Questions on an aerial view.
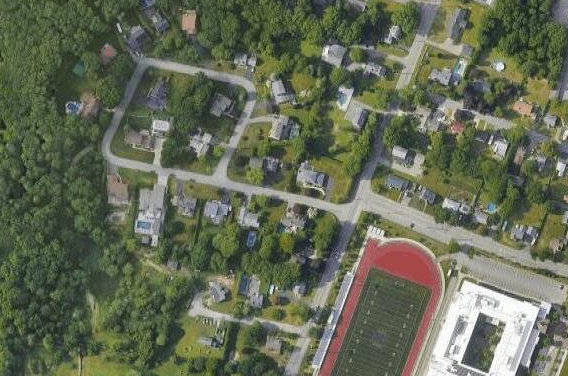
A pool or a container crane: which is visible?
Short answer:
pool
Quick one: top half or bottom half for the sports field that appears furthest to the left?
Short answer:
bottom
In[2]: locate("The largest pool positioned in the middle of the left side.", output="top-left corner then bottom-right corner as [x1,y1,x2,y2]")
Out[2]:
[135,215,154,234]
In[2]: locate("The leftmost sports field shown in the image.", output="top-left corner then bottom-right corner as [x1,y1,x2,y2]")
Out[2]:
[332,268,429,376]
